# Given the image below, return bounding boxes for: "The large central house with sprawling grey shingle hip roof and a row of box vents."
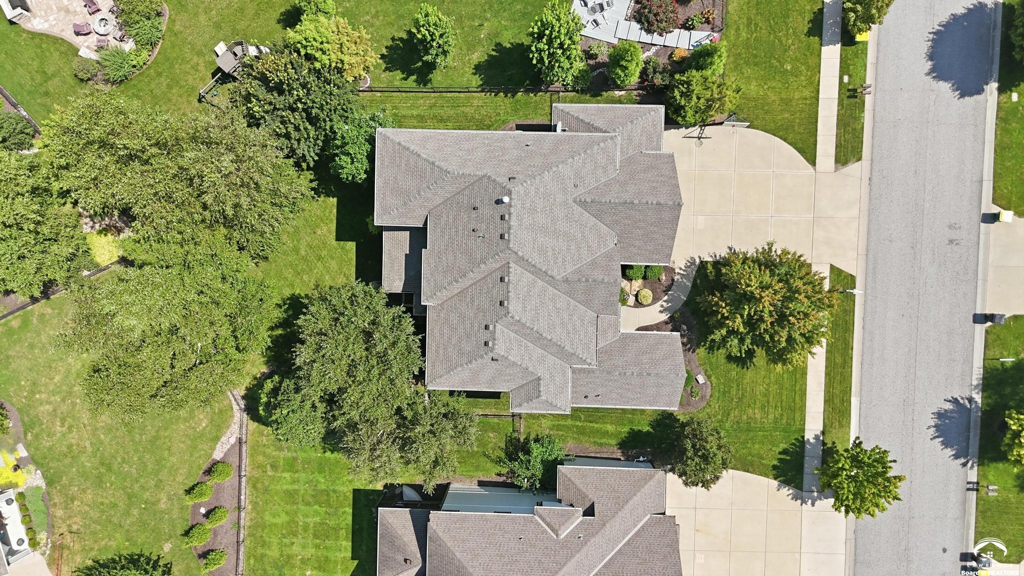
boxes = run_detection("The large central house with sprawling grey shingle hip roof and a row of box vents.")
[375,104,687,413]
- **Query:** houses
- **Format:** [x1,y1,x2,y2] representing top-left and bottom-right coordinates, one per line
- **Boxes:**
[375,104,687,413]
[0,535,11,576]
[377,454,684,576]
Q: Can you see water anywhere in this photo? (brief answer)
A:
No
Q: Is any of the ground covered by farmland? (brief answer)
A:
No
